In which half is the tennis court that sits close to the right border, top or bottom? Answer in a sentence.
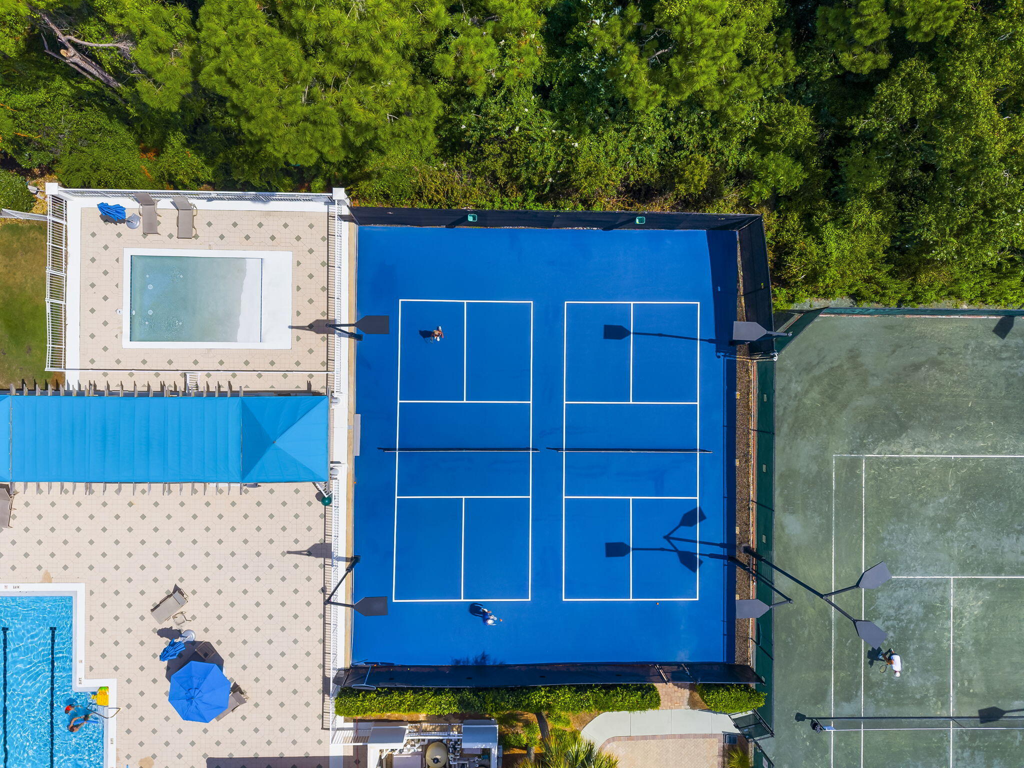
It is in the bottom half that the tennis court that sits close to the right border appears.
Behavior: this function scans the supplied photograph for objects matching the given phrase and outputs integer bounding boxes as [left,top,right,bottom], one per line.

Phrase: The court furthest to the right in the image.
[754,297,1024,768]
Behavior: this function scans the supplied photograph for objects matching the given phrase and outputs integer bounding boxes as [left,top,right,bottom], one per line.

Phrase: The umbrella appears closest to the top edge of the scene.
[101,204,140,229]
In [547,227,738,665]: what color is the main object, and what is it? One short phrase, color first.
blue sports court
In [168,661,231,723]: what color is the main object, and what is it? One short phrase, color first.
blue umbrella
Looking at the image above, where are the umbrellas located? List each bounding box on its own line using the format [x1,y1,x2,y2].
[168,661,231,723]
[162,628,195,659]
[101,204,140,229]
